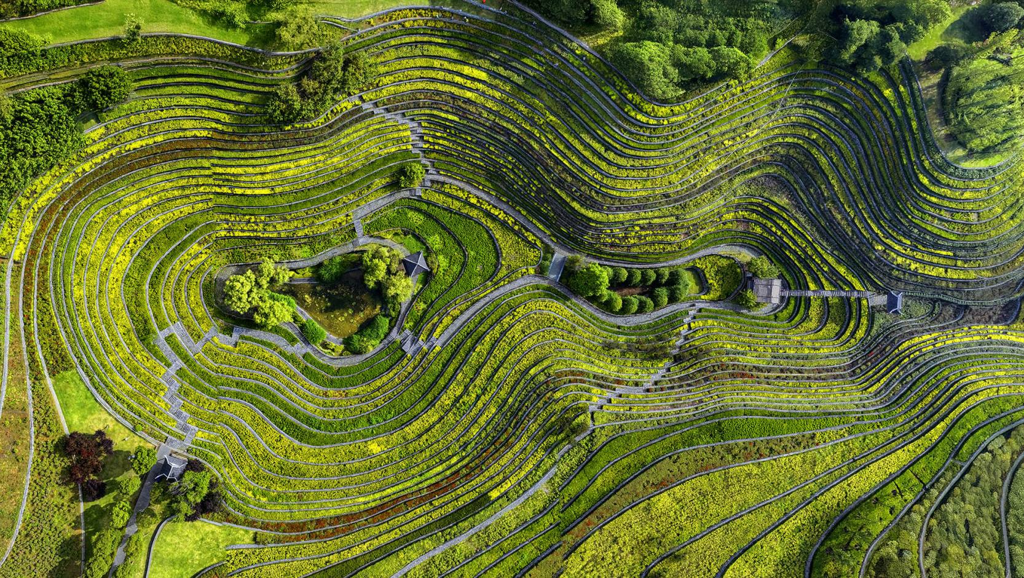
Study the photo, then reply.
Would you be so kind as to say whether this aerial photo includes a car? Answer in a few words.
No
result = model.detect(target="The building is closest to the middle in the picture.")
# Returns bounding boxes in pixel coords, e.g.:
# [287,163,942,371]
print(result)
[402,251,430,279]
